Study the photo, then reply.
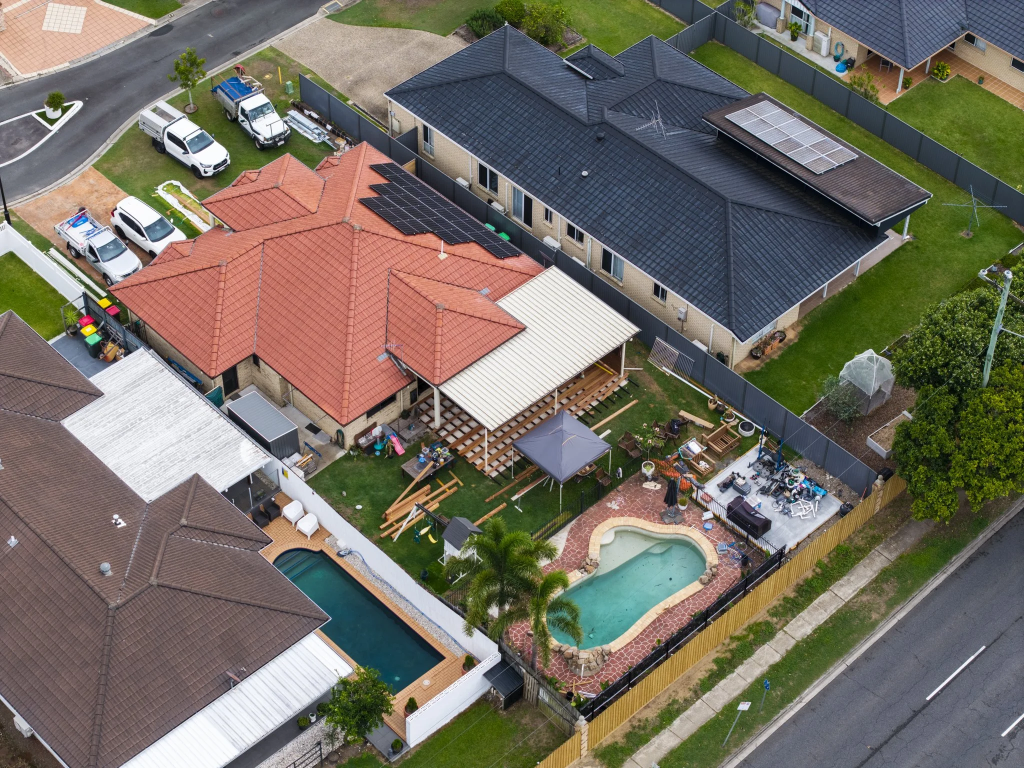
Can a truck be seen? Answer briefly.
Yes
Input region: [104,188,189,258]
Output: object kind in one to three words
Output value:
car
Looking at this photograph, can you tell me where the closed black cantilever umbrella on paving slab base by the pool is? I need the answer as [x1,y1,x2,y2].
[651,472,691,530]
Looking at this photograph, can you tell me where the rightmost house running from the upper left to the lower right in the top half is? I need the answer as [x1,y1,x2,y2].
[380,23,888,370]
